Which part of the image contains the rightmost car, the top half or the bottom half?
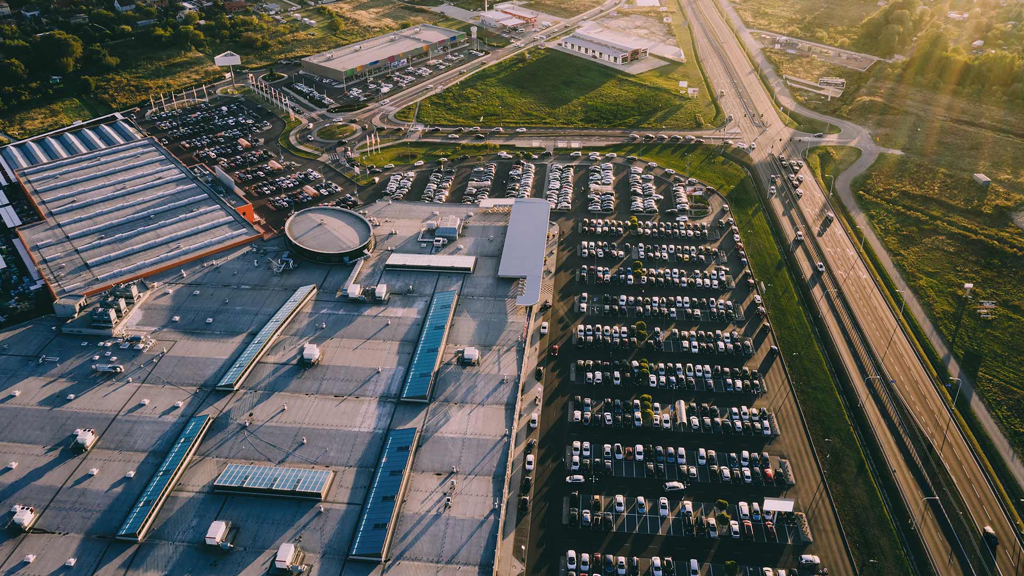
bottom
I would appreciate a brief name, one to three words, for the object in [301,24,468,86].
building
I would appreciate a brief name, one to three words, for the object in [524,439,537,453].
vehicle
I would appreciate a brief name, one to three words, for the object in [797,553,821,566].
vehicle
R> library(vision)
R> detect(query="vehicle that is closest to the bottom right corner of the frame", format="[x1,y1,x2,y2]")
[980,525,1000,545]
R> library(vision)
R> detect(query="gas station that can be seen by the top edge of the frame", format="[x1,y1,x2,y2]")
[480,2,538,31]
